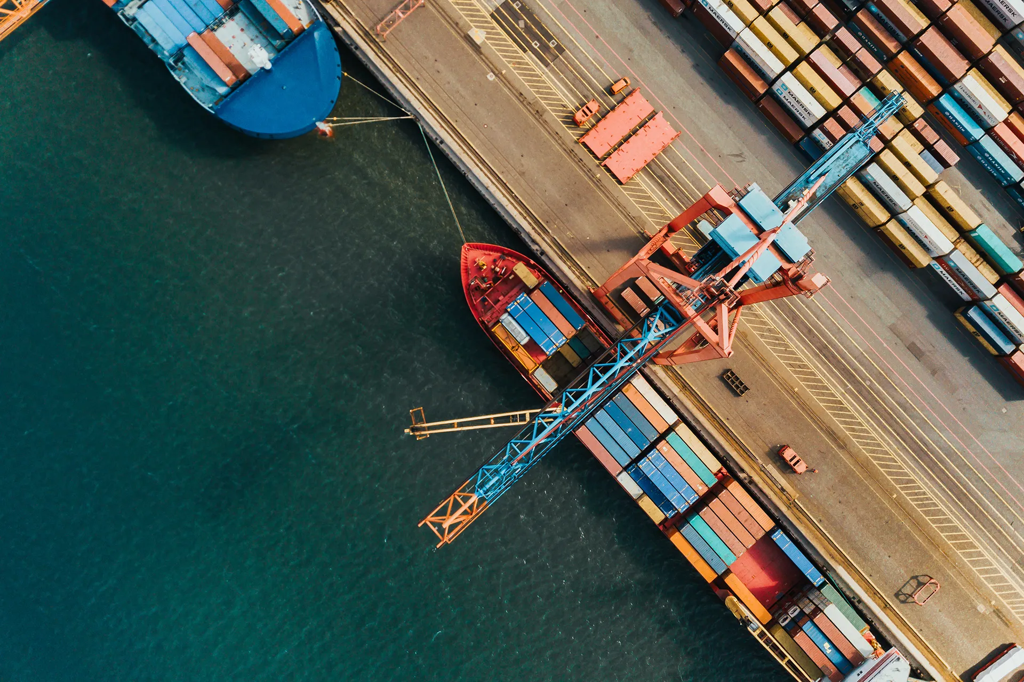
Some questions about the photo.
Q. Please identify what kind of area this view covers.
port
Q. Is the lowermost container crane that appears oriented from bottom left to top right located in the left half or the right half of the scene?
right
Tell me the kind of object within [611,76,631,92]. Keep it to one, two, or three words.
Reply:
vehicle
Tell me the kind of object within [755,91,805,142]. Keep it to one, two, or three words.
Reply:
shipping container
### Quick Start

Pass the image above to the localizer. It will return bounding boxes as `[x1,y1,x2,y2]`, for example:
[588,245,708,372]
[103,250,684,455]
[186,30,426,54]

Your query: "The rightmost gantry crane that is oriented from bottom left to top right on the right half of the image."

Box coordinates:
[418,91,918,551]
